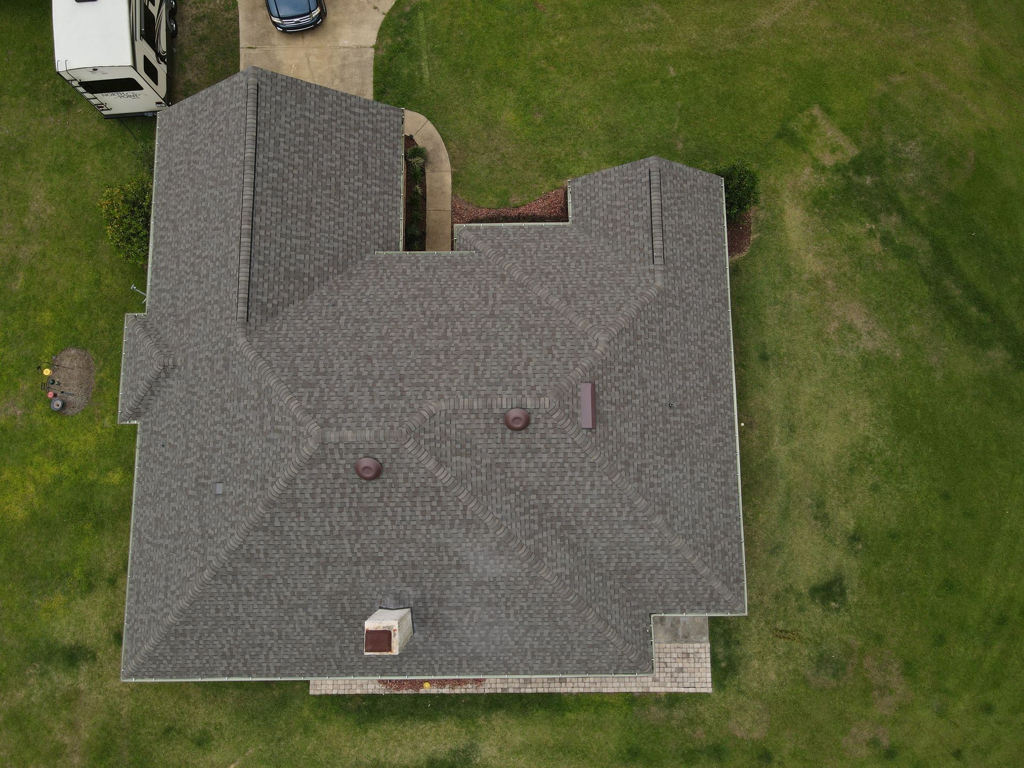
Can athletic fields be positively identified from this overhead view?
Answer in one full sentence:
No, no athletic field is visible in the view.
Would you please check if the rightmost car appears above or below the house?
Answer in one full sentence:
Within the scene, the rightmost car can be found above the house.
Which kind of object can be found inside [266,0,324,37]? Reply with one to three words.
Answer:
car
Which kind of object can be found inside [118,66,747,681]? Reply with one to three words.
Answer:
house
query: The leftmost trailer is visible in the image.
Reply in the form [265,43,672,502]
[55,0,177,119]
